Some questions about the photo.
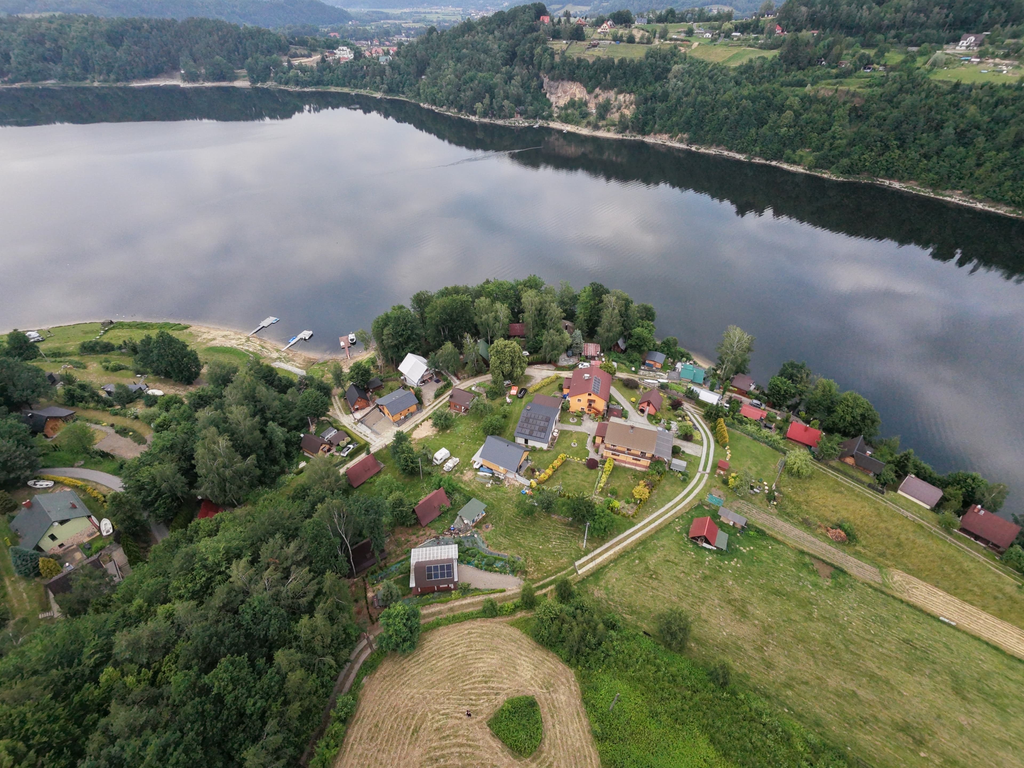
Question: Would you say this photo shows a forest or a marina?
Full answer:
The area seen from above is a marina.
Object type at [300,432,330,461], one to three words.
building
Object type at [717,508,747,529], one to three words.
shed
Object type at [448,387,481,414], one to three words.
house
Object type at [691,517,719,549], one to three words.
barn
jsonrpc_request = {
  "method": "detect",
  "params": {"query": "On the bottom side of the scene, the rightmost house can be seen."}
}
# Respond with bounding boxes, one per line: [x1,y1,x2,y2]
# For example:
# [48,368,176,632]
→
[958,501,1017,552]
